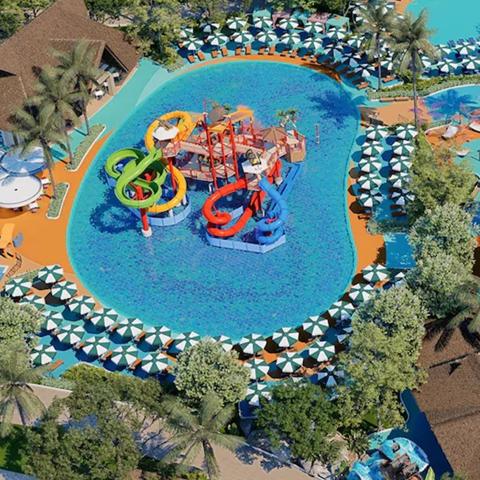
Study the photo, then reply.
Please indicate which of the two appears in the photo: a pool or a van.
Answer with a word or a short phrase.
pool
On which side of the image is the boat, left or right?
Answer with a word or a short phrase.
right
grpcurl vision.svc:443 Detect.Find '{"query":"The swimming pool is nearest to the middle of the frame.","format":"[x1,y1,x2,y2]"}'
[72,62,357,337]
